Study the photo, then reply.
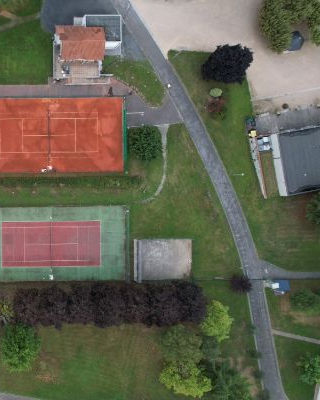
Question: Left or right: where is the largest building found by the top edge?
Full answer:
It is on the left.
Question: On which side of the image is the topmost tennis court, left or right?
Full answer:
The topmost tennis court sits on the left side.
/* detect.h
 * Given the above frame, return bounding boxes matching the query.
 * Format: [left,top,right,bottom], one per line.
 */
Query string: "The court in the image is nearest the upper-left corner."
[0,97,124,174]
